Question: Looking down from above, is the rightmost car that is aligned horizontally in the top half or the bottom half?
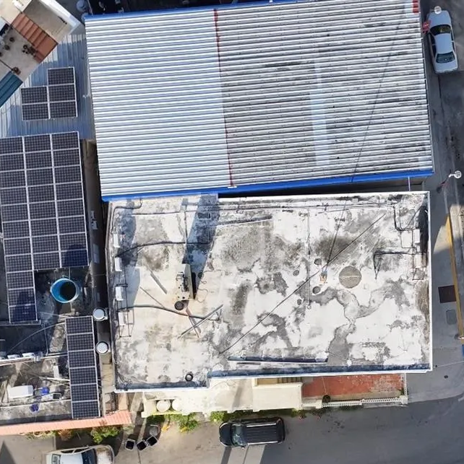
bottom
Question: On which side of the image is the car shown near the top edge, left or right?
right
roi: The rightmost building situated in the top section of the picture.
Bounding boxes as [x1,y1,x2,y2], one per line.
[84,0,435,201]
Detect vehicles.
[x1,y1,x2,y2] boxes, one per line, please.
[218,419,286,453]
[428,6,458,73]
[44,446,114,464]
